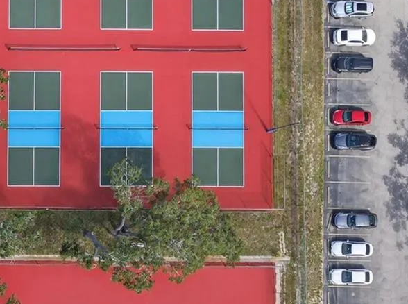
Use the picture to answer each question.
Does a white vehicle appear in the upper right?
Yes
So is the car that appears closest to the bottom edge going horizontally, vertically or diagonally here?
horizontally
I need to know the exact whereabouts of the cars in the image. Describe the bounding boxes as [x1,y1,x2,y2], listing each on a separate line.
[329,268,372,288]
[331,54,373,74]
[332,27,374,48]
[333,211,378,231]
[331,107,372,127]
[330,240,373,259]
[333,132,378,152]
[330,0,374,21]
